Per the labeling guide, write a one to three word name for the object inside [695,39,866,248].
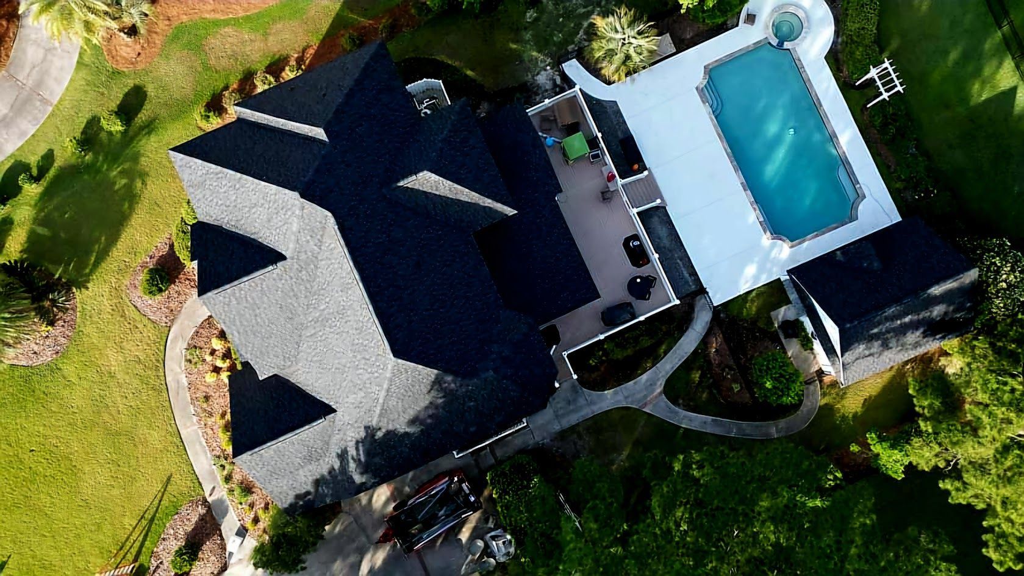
swimming pool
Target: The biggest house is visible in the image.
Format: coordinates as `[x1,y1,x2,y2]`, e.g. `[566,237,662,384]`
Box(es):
[167,41,602,513]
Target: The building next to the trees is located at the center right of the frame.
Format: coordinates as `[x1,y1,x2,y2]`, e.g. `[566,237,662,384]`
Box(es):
[781,209,975,388]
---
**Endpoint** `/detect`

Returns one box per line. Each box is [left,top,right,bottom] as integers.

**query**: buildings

[167,41,602,513]
[781,209,975,388]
